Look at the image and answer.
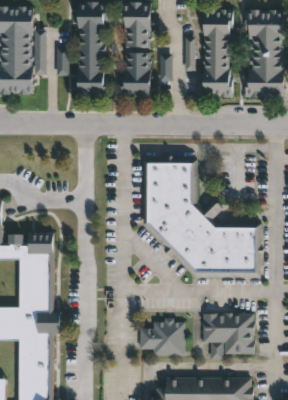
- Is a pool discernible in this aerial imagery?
No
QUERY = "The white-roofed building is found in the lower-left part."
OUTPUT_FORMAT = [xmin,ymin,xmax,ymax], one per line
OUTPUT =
[0,200,59,400]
